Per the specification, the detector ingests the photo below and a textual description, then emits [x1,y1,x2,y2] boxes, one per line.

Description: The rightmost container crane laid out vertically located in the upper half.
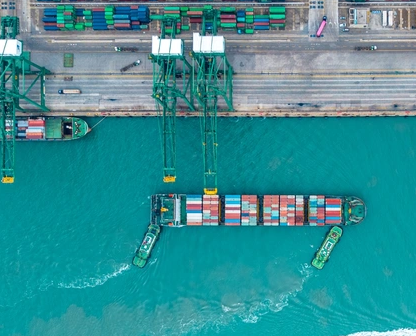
[191,7,238,195]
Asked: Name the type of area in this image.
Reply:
port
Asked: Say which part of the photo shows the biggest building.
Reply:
top right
